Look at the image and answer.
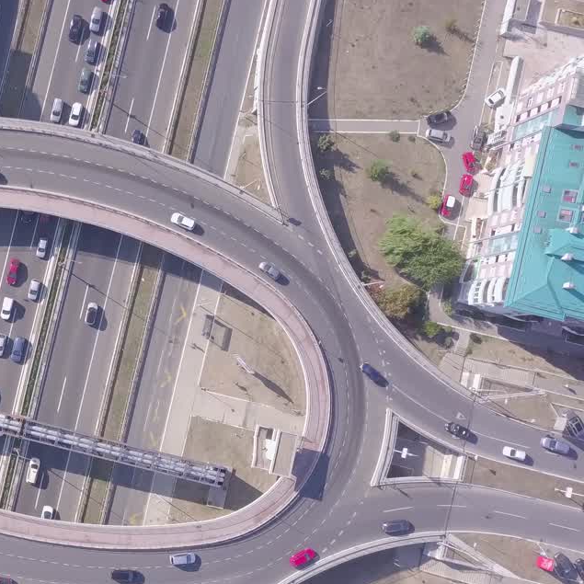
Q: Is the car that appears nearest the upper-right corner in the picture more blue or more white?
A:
white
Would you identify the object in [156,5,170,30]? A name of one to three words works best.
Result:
vehicle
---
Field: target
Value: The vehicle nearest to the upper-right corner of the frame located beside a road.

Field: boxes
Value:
[483,89,507,109]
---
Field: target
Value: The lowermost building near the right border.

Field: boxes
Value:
[454,55,584,335]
